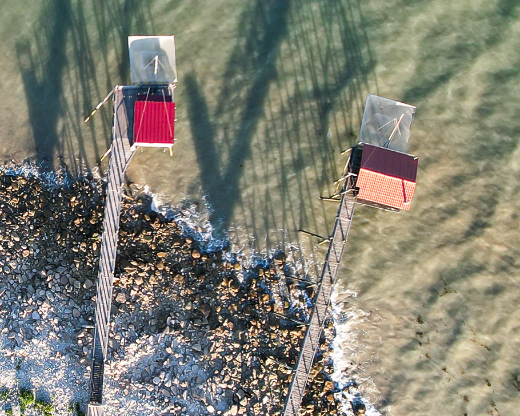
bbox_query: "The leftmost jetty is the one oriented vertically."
[81,80,182,416]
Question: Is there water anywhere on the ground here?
Yes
